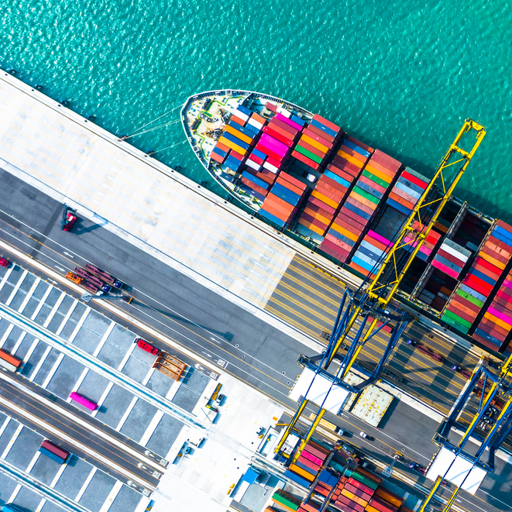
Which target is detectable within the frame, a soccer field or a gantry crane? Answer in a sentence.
I can see a gantry crane in this picture.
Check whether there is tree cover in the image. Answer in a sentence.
No, no tree cover is visible.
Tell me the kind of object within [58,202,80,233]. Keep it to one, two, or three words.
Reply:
work vehicle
